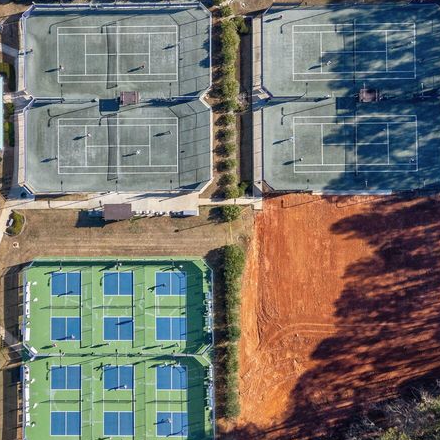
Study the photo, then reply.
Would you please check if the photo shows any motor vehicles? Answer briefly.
No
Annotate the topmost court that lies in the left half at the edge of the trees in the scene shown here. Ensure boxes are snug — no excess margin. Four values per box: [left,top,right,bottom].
[25,8,209,100]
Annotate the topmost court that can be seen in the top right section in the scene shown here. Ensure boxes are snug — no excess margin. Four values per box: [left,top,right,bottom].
[264,7,440,100]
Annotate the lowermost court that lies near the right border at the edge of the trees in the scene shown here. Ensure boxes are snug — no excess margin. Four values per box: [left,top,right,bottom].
[264,100,440,192]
